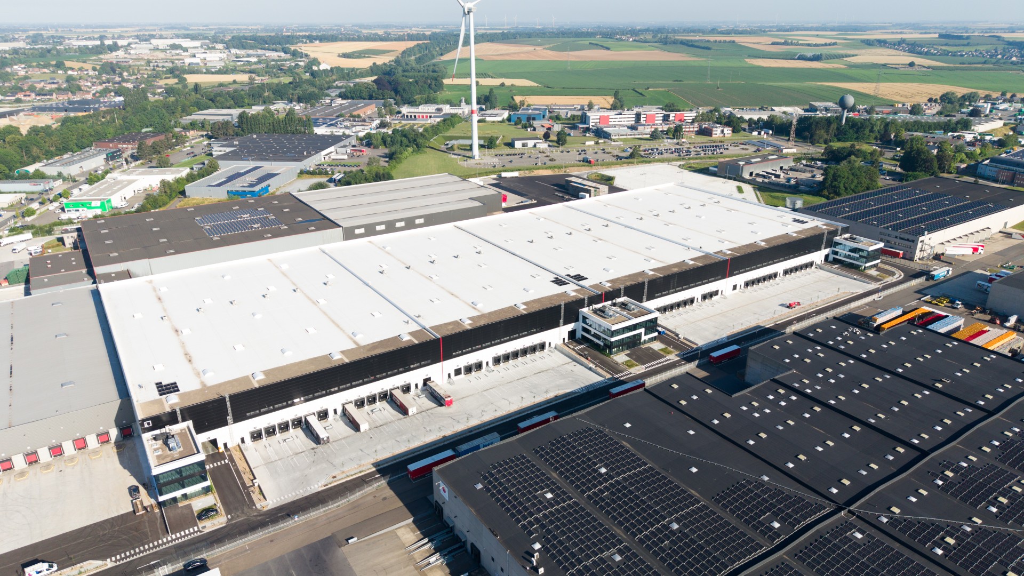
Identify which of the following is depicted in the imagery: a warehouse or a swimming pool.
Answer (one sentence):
There is a warehouse in the scene.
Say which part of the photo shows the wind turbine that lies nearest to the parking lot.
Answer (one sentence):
You can find the wind turbine that lies nearest to the parking lot in the top area of the picture.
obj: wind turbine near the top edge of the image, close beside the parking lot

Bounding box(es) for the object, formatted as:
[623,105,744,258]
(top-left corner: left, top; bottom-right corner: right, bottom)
[458,0,490,160]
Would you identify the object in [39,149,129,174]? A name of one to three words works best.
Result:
shed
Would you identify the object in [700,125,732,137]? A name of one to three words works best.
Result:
building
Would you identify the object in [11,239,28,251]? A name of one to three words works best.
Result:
vehicle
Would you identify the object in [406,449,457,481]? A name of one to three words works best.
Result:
trailer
